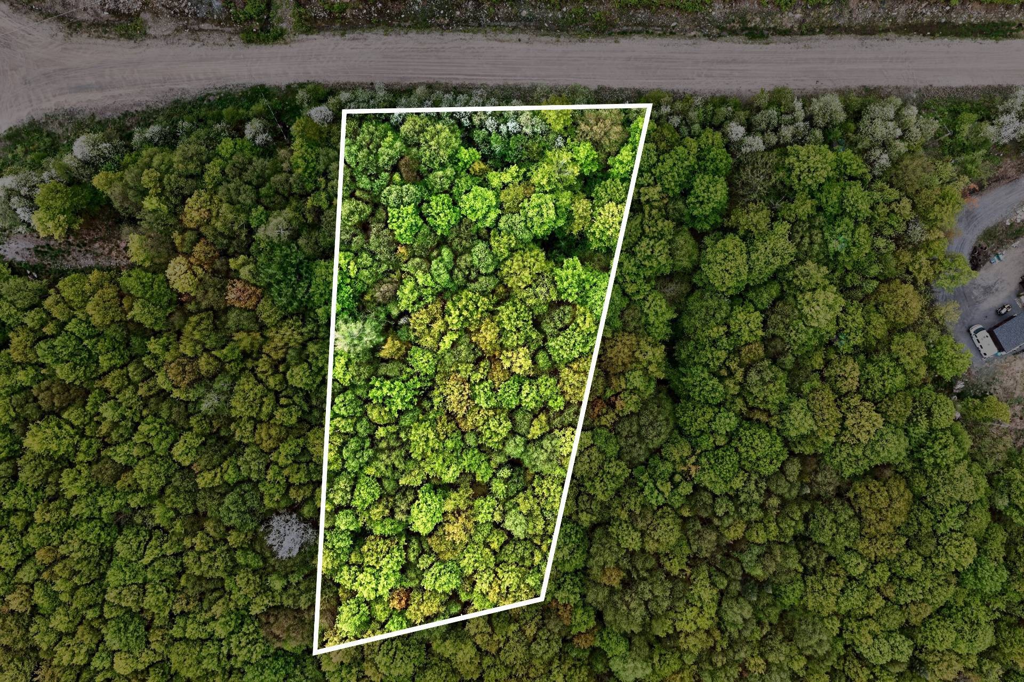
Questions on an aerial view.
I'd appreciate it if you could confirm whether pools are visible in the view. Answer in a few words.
No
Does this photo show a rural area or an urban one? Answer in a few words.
rural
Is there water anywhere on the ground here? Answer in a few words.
No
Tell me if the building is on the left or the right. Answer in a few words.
right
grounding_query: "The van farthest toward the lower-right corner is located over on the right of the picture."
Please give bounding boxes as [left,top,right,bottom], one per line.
[968,323,997,361]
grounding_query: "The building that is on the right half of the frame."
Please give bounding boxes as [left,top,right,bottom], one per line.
[984,307,1024,357]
